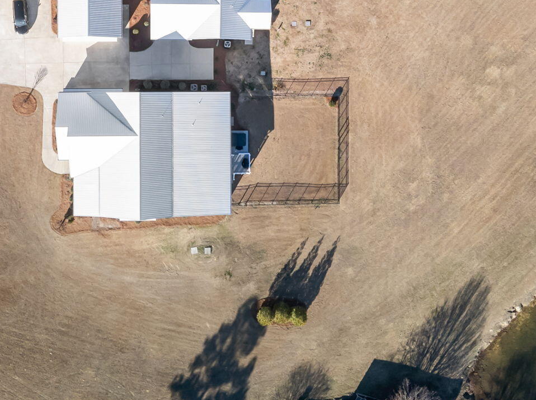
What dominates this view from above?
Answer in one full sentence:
The largest share of the image is taken up by grass.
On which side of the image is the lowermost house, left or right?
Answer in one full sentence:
The lowermost house sits on the left side.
